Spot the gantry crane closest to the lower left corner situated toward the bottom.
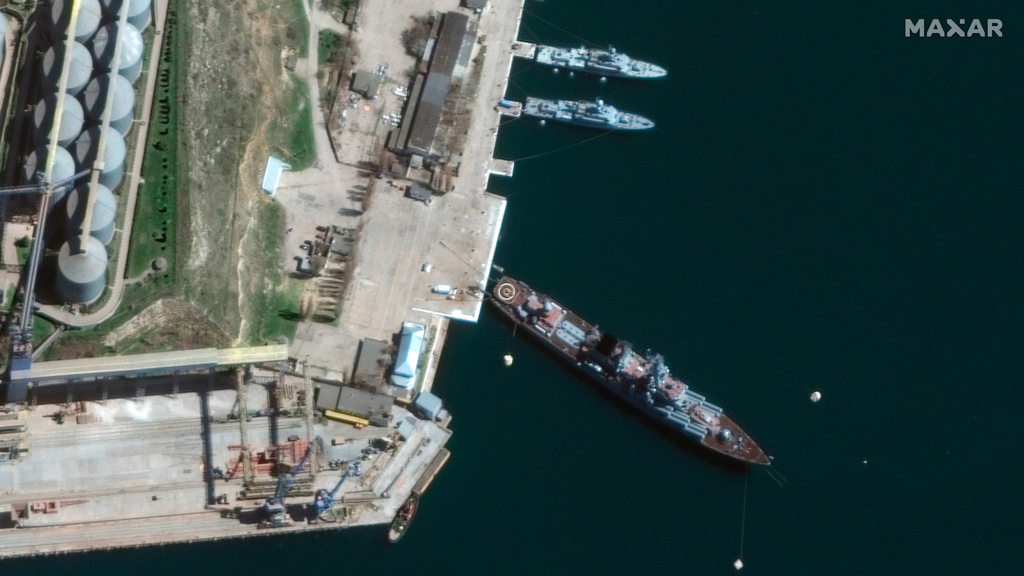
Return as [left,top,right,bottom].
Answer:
[0,410,28,467]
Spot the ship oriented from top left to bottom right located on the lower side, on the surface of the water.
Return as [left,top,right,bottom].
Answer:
[491,276,771,474]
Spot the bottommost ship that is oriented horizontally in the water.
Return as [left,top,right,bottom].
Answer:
[524,97,655,132]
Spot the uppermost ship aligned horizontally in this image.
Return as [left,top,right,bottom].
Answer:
[536,46,668,79]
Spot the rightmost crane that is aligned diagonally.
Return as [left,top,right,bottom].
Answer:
[313,456,363,523]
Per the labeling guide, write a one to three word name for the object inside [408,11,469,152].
building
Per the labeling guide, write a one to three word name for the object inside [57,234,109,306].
silo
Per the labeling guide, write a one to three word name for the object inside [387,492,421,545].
boat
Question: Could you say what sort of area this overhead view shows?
port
